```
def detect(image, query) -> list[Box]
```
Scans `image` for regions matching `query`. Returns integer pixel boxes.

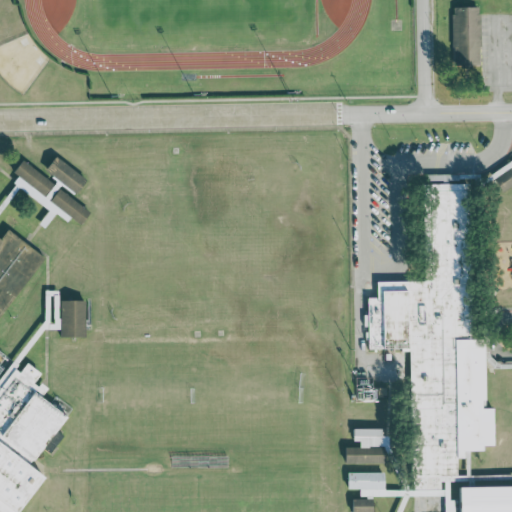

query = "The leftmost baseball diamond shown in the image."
[0,33,48,94]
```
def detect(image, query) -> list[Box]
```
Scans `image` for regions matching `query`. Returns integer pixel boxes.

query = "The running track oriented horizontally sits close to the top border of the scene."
[24,0,370,72]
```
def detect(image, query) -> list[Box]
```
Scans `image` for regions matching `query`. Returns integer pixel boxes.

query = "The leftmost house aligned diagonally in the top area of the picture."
[16,160,56,196]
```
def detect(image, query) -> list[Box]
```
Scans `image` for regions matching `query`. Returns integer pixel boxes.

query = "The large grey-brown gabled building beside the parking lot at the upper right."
[452,7,481,66]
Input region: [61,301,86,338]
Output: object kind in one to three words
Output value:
house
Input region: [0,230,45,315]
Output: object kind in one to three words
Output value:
building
